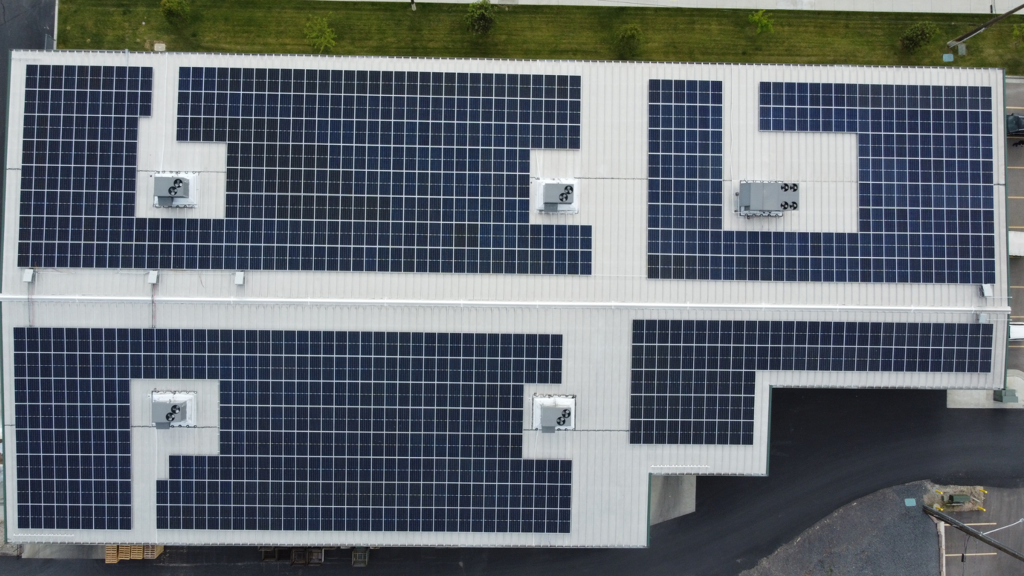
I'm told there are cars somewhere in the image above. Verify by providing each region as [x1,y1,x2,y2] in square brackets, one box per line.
[1006,112,1024,138]
[1007,321,1024,341]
